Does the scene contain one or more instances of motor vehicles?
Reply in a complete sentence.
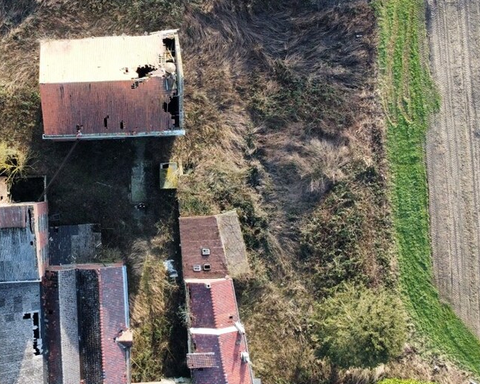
No, I can see no motor vehicle in this picture.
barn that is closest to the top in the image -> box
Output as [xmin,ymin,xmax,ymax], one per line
[39,27,187,138]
